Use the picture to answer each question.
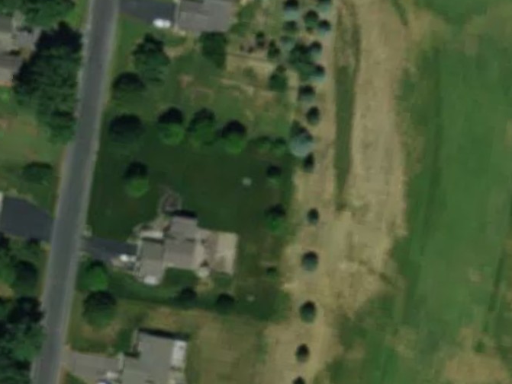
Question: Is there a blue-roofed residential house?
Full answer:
No, there is no blue-roofed residential house in the image.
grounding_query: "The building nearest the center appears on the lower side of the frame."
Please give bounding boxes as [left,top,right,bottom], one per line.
[137,213,221,284]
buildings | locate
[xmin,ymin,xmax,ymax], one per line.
[0,14,21,84]
[137,213,221,284]
[176,0,239,34]
[119,333,187,384]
